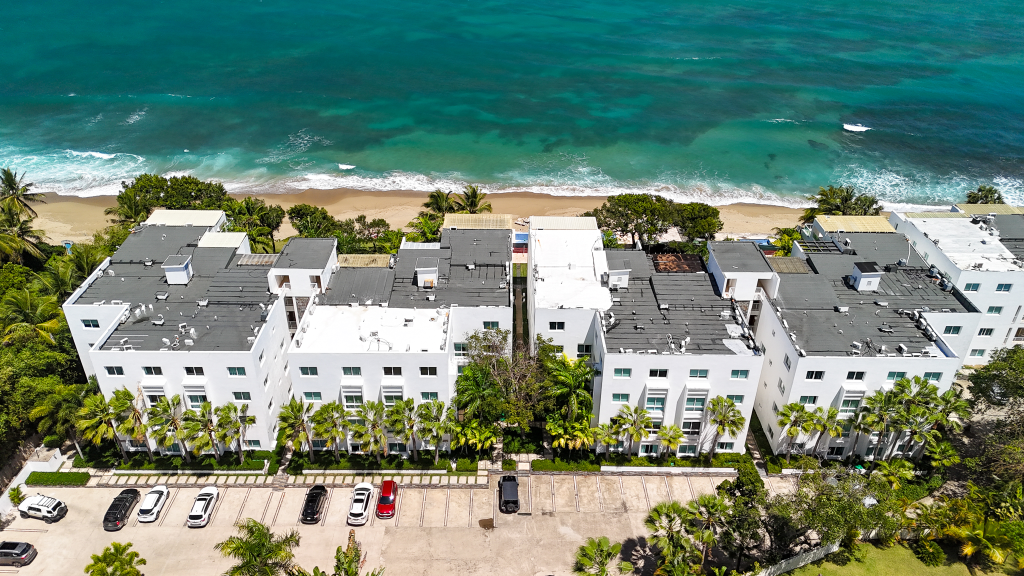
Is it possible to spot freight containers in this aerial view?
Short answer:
No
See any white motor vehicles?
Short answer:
Yes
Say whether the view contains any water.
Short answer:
Yes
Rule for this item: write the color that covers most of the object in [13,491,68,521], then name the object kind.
white car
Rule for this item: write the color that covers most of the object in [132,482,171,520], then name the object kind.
white car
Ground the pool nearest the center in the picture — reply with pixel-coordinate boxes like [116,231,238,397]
[515,229,529,243]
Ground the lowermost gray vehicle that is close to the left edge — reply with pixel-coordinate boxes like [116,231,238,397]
[0,533,40,565]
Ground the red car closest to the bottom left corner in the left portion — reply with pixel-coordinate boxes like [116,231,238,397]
[373,478,399,518]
